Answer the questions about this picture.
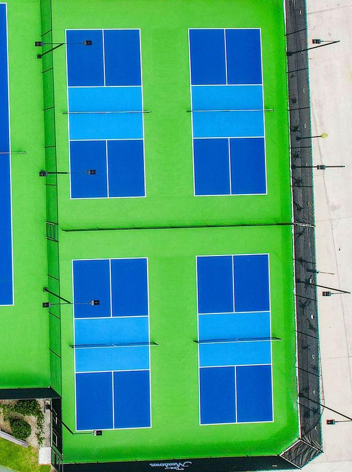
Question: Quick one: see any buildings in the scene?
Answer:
No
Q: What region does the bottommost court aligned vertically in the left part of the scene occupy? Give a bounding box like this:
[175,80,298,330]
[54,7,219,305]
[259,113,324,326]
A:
[72,258,153,431]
